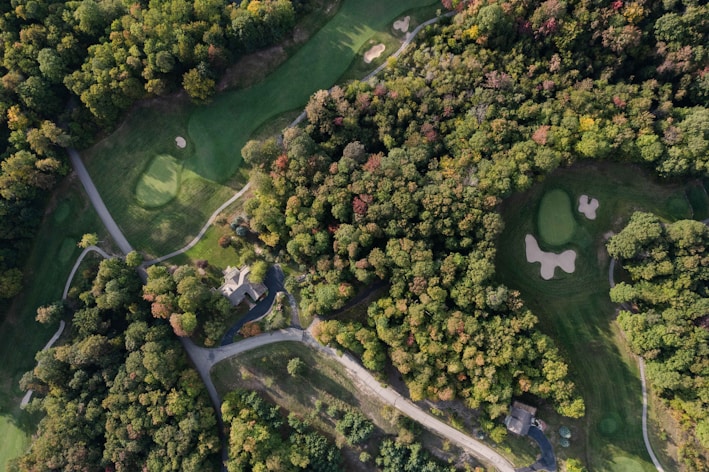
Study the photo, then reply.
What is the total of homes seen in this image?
two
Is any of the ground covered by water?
No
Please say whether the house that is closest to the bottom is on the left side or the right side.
right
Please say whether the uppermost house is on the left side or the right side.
left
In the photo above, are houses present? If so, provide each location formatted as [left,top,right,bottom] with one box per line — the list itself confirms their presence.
[221,263,269,311]
[501,399,537,435]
